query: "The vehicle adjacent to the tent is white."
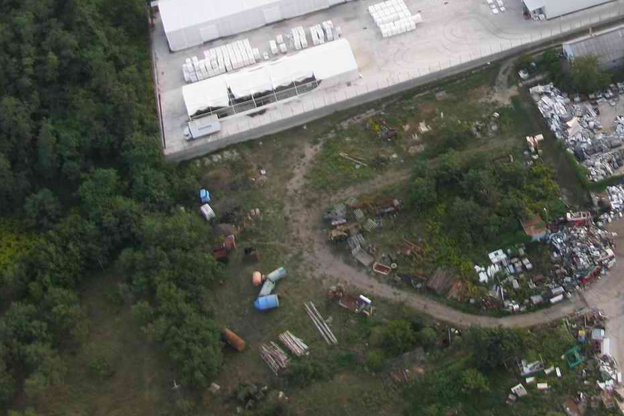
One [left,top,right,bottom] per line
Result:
[184,113,221,139]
